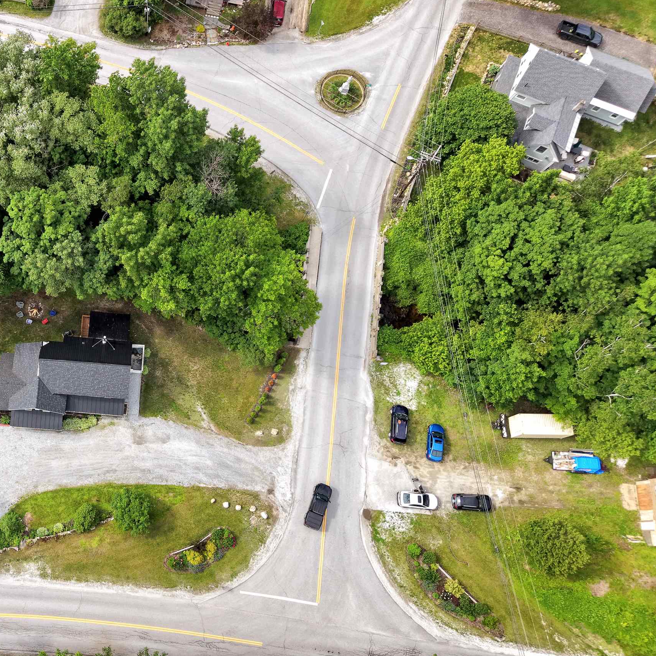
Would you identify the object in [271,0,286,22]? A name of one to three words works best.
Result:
car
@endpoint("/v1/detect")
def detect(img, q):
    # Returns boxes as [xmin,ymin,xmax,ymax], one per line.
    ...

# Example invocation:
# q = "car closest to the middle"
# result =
[388,406,410,445]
